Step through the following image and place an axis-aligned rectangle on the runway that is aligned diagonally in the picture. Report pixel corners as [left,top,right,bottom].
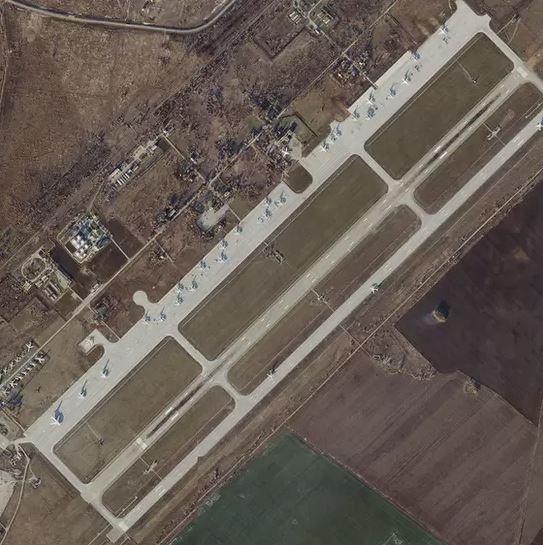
[85,64,532,499]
